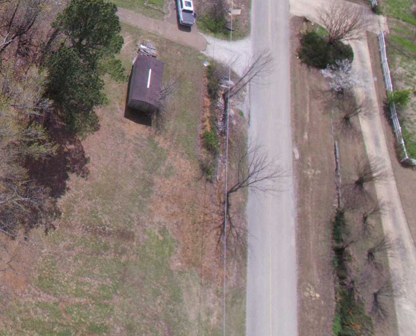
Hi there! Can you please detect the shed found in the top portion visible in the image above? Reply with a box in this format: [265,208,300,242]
[124,54,165,119]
